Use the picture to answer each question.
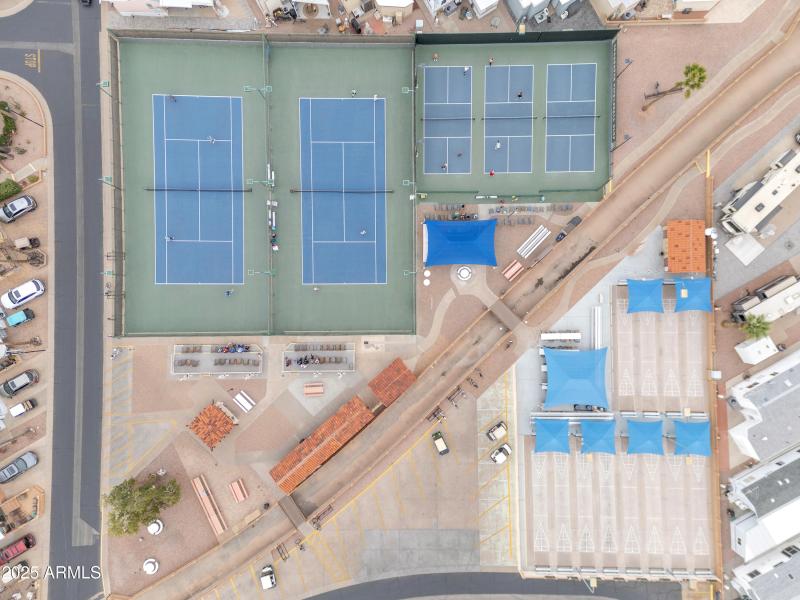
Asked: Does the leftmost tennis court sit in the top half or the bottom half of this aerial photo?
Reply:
top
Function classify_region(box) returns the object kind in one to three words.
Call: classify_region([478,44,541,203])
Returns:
sports court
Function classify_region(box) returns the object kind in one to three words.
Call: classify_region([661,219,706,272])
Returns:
building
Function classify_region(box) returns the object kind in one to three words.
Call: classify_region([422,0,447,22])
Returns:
vehicle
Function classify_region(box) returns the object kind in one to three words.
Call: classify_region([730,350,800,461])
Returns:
house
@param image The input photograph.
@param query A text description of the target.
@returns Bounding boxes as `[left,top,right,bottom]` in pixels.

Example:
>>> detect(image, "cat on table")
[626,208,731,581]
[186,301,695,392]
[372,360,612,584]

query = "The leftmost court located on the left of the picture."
[123,41,271,334]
